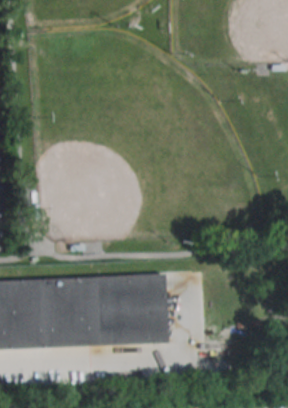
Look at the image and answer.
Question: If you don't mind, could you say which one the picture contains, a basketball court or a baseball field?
baseball field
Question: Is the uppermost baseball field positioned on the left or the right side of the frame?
left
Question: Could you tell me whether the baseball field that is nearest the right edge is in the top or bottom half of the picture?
top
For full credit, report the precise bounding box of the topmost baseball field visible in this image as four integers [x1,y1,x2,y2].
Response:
[34,0,144,26]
